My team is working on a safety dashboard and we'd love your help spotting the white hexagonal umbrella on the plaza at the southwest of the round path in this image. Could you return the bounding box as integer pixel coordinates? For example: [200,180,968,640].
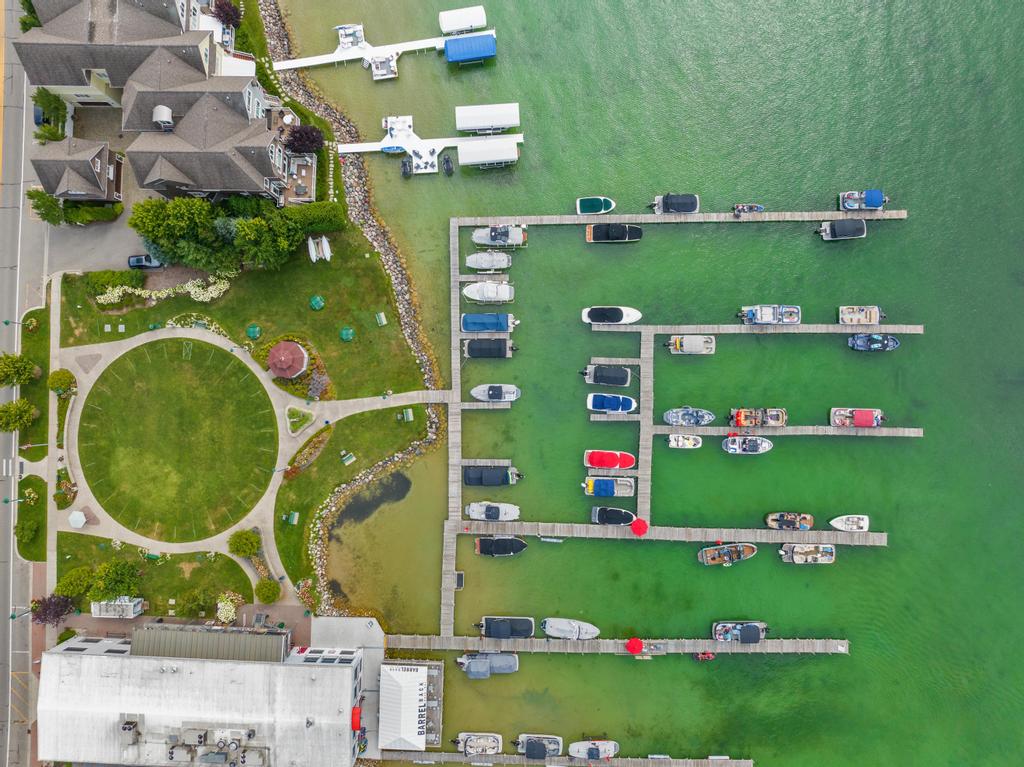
[70,510,91,528]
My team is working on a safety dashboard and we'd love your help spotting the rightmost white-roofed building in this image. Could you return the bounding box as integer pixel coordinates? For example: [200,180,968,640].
[379,660,443,752]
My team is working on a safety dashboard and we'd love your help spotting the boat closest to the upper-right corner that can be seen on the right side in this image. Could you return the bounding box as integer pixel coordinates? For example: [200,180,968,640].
[838,190,891,212]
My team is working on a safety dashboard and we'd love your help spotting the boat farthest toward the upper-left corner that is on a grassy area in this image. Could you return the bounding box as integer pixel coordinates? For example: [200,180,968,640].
[306,234,330,263]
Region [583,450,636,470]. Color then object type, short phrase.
red boat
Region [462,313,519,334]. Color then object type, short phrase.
blue boat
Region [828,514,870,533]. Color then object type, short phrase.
white boat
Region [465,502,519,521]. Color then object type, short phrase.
white boat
